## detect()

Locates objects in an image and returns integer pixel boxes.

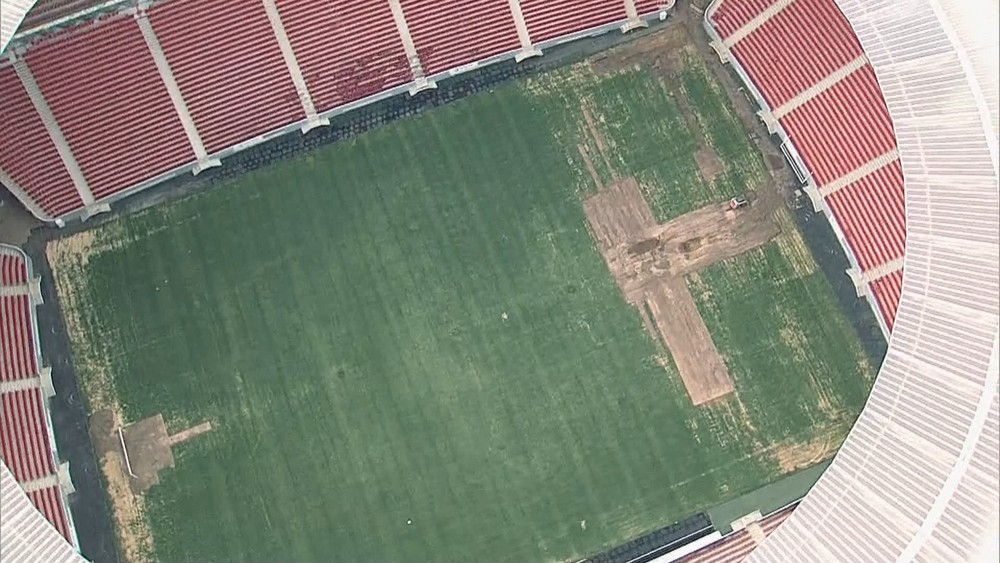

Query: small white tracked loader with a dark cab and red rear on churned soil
[729,192,753,210]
